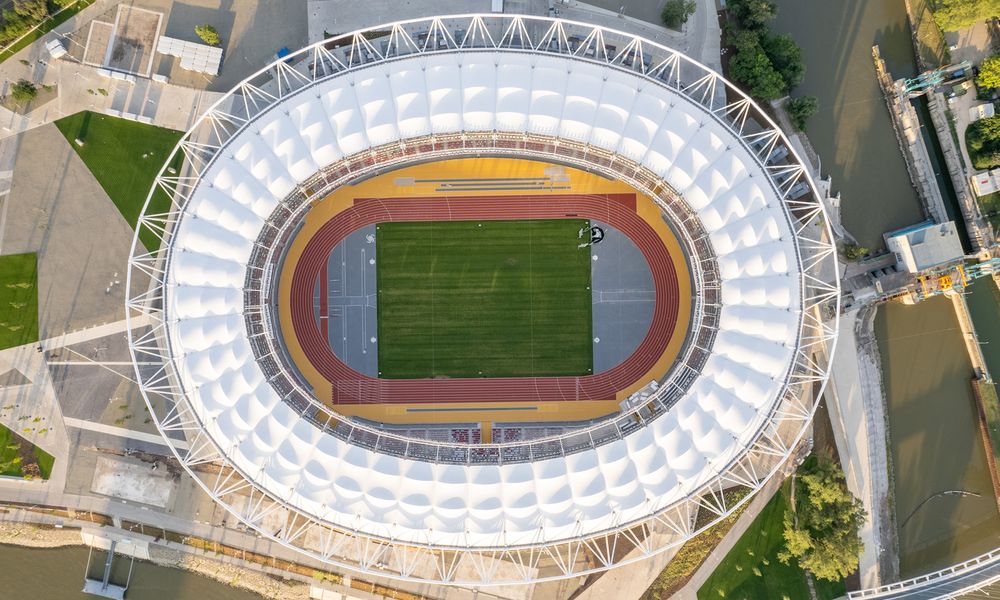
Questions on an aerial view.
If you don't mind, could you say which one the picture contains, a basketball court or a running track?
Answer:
running track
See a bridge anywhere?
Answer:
Yes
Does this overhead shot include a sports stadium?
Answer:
Yes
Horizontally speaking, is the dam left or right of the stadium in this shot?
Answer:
on the right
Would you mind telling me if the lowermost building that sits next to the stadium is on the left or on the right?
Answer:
right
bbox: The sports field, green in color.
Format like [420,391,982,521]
[376,219,593,379]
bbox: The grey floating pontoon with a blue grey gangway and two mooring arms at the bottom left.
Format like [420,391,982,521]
[83,537,135,600]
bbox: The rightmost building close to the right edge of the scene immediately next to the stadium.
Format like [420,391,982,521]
[873,216,965,274]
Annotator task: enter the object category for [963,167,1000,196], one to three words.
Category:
house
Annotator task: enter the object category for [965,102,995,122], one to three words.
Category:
shed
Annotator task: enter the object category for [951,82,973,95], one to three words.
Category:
vehicle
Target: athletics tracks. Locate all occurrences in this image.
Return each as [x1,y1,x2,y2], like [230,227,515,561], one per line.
[289,193,680,405]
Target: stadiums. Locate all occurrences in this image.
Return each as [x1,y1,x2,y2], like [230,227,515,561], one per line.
[127,14,841,583]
